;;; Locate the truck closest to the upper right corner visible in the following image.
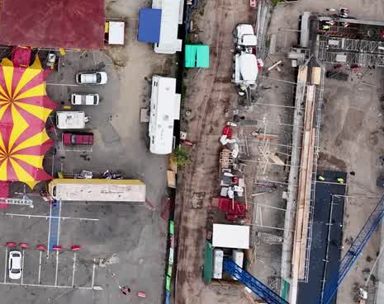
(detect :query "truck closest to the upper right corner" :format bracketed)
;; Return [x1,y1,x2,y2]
[236,24,265,104]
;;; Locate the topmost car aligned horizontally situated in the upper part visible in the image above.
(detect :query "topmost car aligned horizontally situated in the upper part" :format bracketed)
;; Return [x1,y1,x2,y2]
[76,71,108,87]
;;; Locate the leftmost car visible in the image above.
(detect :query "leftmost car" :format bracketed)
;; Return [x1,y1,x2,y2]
[8,251,24,280]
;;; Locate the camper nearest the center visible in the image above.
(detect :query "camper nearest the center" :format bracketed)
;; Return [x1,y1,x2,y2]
[142,75,179,155]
